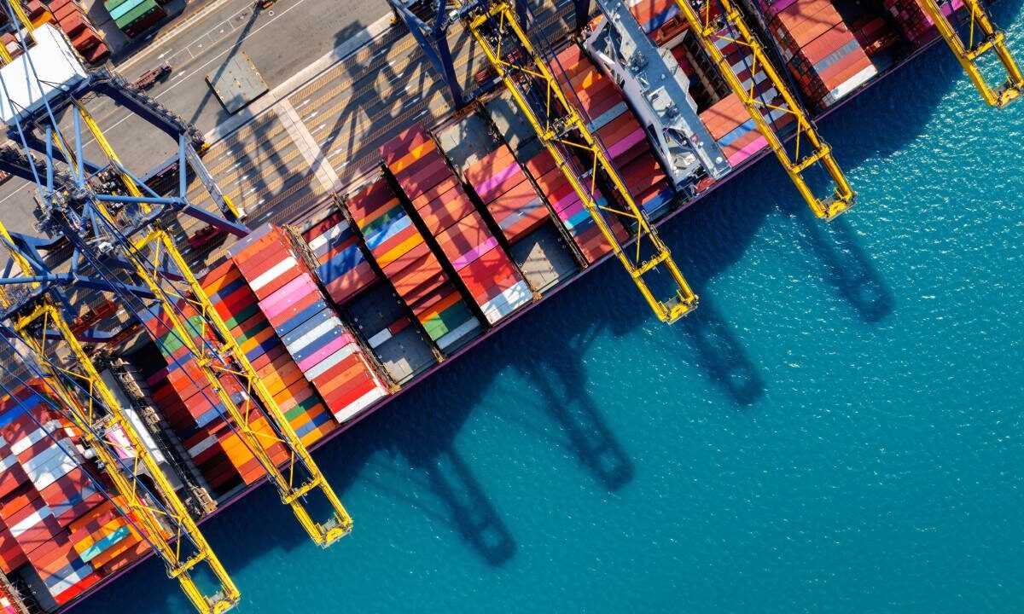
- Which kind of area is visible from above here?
port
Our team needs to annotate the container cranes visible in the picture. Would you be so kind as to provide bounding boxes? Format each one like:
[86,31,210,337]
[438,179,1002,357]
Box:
[0,0,350,549]
[675,0,857,218]
[923,0,1024,104]
[0,149,240,614]
[385,0,702,319]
